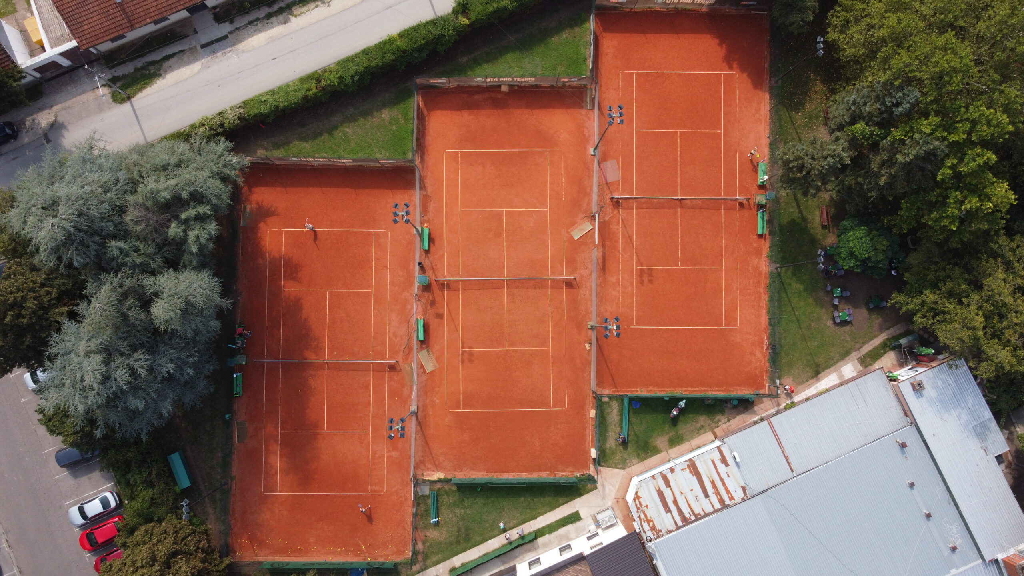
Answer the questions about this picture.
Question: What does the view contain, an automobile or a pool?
automobile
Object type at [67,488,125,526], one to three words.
car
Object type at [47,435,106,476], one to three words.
vehicle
